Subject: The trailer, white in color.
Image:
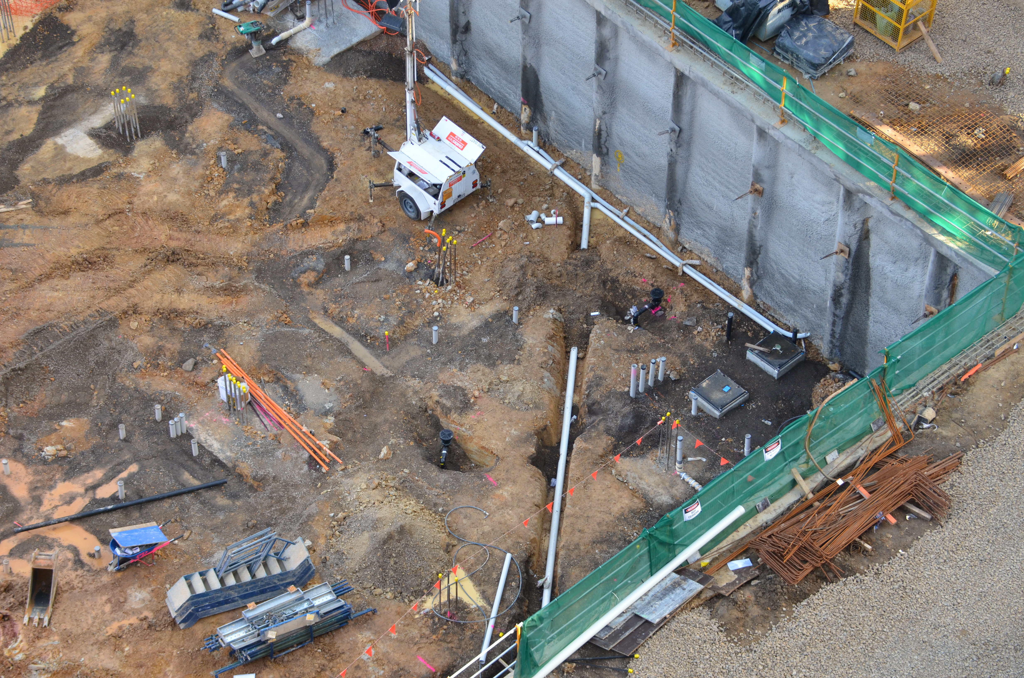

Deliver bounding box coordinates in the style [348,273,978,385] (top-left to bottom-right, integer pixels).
[365,0,496,251]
